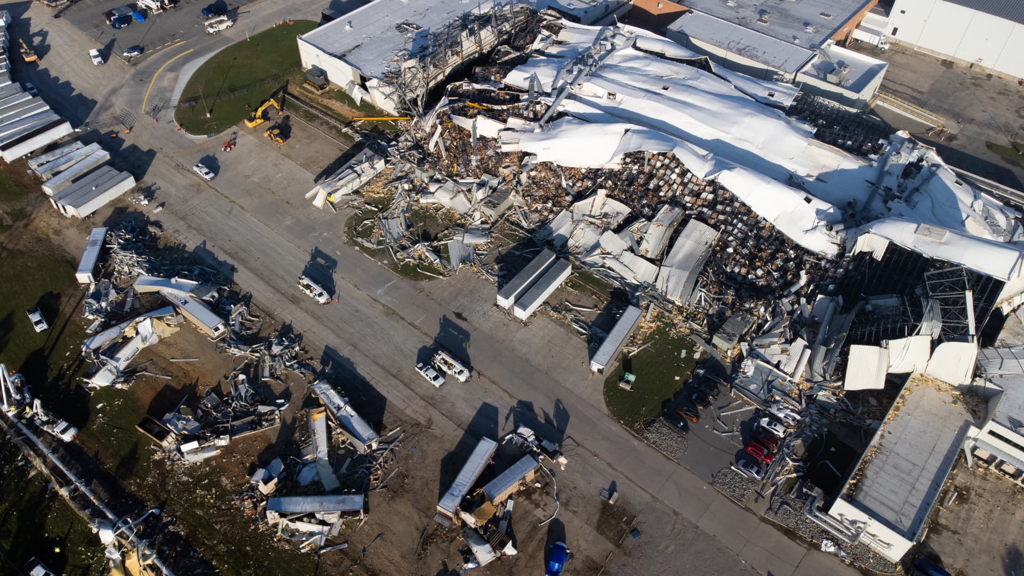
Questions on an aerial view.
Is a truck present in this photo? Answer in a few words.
Yes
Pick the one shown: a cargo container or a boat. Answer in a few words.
cargo container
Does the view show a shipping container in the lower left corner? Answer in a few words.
Yes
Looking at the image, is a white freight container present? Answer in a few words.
No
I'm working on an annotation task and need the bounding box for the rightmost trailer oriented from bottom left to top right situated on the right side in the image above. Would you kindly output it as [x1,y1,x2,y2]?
[591,305,642,375]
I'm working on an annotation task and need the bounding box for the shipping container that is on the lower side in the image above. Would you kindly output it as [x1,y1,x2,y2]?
[135,415,175,447]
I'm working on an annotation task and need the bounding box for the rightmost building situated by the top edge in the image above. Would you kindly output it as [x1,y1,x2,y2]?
[883,0,1024,76]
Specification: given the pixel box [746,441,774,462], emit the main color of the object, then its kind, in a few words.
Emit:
red car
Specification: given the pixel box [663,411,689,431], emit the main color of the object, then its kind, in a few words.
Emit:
black car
